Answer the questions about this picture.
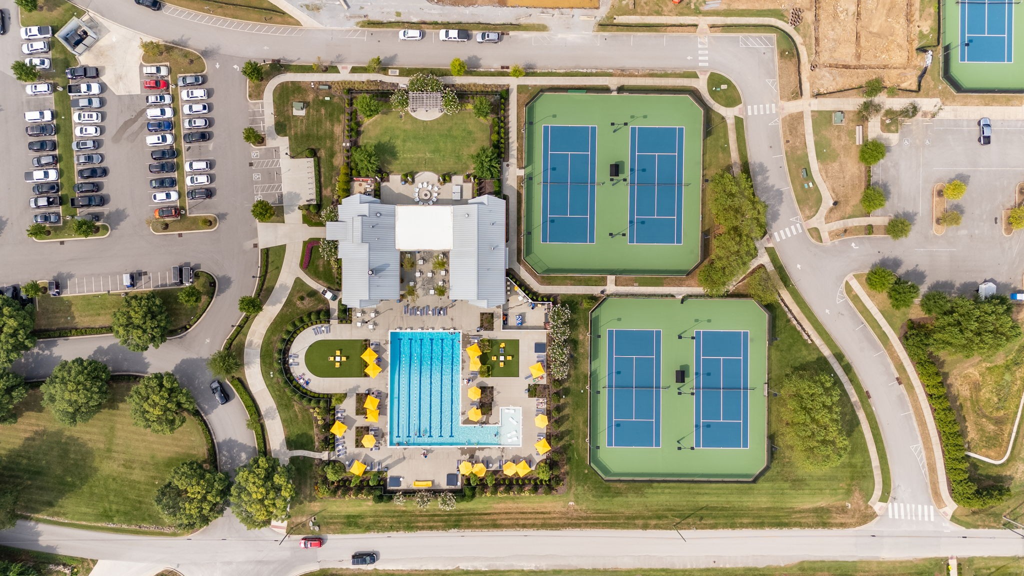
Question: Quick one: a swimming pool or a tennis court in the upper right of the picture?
tennis court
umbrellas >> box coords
[468,407,482,422]
[465,342,482,358]
[459,461,473,475]
[361,434,377,448]
[503,462,516,476]
[467,357,483,370]
[516,460,532,477]
[528,362,545,379]
[472,463,486,476]
[350,458,368,477]
[535,414,548,428]
[535,438,551,455]
[330,419,348,437]
[360,347,379,365]
[366,408,380,422]
[468,386,481,400]
[363,394,381,410]
[364,361,382,379]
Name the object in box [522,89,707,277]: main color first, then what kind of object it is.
green tennis court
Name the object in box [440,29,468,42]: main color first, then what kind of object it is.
white vehicle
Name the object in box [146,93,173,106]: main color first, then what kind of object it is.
white vehicle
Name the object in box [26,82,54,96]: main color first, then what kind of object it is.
white car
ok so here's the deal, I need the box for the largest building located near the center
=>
[322,194,508,308]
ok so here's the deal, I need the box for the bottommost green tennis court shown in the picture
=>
[588,297,773,483]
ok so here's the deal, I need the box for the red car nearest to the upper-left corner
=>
[143,78,169,91]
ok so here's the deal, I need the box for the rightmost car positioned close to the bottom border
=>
[352,552,377,565]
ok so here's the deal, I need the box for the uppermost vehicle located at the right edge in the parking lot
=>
[977,118,992,146]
